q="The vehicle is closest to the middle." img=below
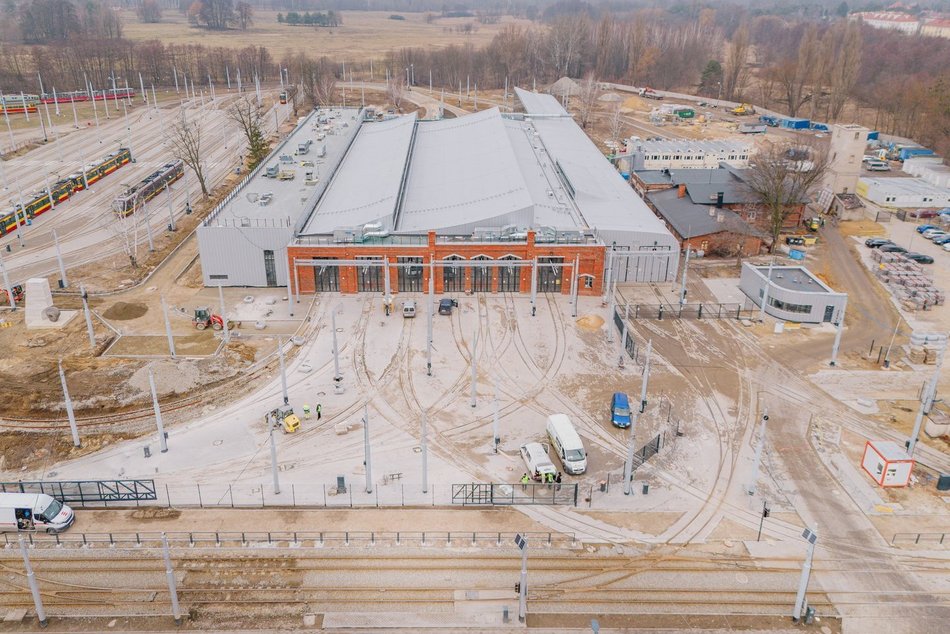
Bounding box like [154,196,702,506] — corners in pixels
[437,296,458,313]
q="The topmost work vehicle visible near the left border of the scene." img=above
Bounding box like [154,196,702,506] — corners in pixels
[0,278,33,303]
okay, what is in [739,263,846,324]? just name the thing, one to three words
building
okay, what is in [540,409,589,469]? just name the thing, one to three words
van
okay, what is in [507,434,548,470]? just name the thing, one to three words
car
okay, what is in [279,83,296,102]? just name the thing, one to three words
train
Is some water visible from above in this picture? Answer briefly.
No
